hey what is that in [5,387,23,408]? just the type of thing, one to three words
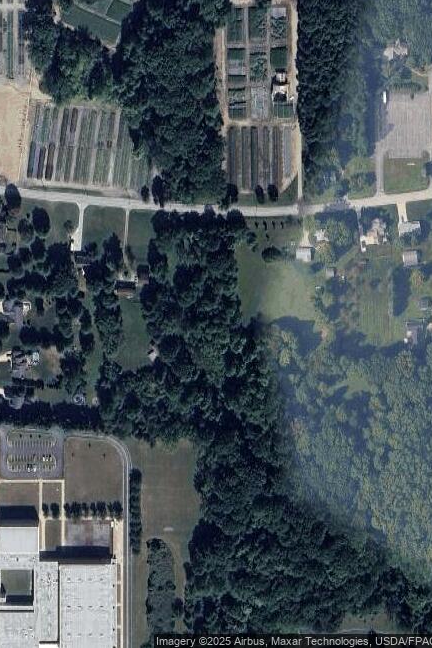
house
